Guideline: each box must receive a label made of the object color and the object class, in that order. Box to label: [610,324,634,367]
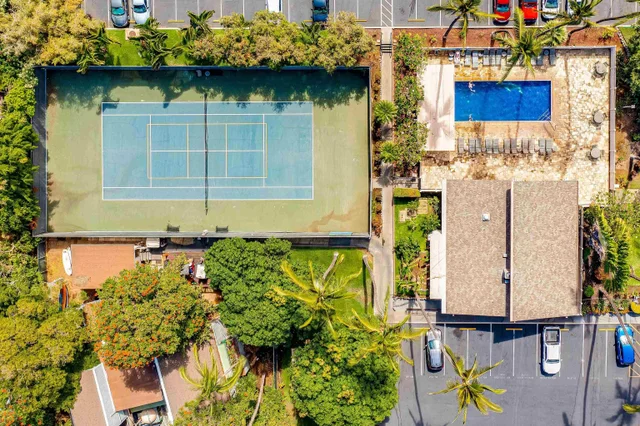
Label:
blue car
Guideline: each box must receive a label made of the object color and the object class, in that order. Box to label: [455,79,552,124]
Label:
blue swimming pool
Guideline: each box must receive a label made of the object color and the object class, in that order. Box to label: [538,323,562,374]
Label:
white truck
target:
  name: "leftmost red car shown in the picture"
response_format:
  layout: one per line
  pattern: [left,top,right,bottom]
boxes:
[492,0,512,24]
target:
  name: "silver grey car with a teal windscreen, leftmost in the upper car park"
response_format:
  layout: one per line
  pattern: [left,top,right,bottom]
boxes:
[109,0,131,30]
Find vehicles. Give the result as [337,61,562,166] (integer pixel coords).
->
[492,0,512,24]
[131,0,151,26]
[518,0,540,23]
[109,0,131,30]
[539,0,561,19]
[610,324,634,367]
[424,329,442,372]
[538,323,562,374]
[139,402,160,426]
[310,0,329,24]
